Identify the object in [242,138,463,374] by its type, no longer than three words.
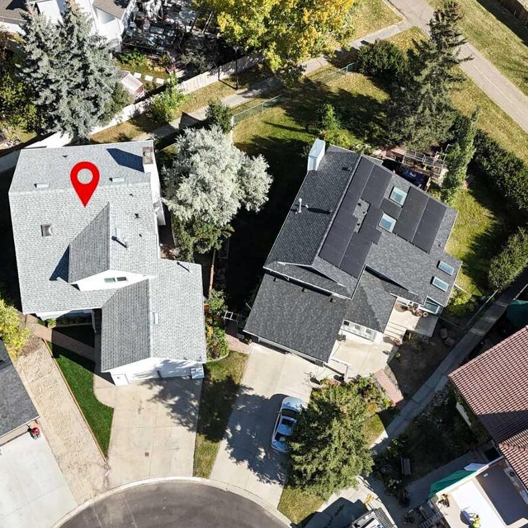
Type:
house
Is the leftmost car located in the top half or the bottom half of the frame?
bottom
